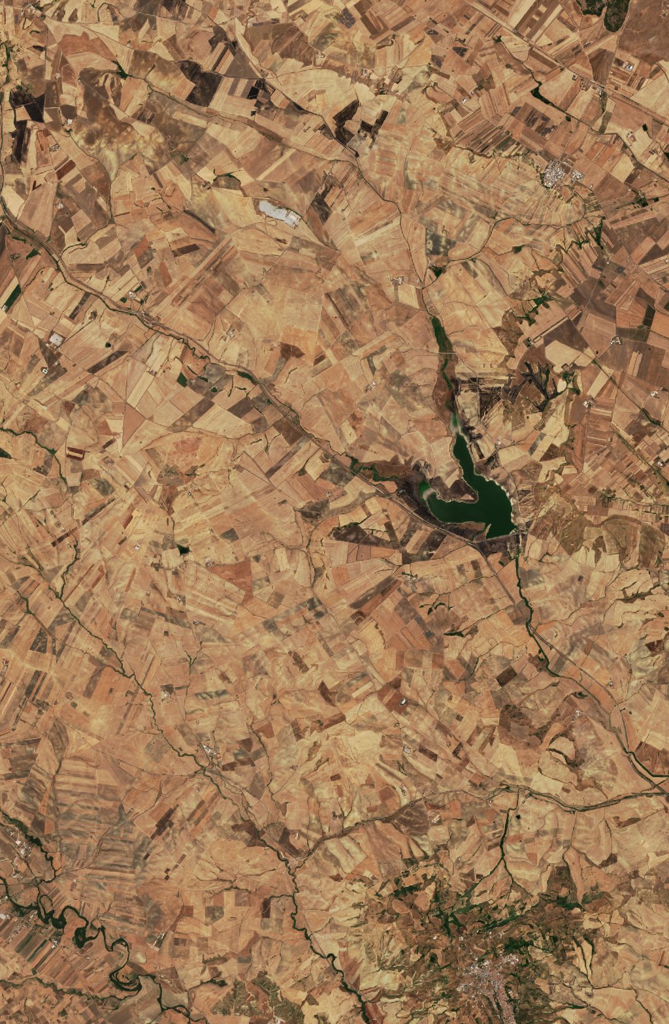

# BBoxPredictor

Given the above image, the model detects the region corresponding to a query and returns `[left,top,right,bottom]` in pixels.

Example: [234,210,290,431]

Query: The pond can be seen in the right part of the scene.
[426,435,516,537]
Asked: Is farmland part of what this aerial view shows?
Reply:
Yes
